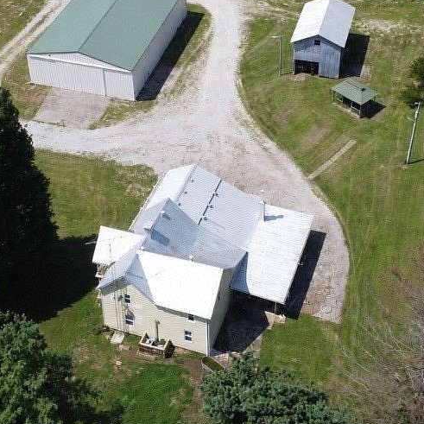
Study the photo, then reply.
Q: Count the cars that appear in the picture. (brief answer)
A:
none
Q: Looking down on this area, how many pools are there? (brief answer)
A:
none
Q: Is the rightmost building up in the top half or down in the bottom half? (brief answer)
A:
top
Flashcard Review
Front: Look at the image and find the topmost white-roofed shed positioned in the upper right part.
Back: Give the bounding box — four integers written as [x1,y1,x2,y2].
[294,0,351,79]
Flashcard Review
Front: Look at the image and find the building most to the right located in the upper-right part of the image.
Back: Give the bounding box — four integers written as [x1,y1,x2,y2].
[330,76,385,120]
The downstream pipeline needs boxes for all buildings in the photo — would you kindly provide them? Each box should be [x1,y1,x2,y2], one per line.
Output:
[330,76,385,120]
[85,164,316,352]
[294,0,351,79]
[24,0,187,100]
